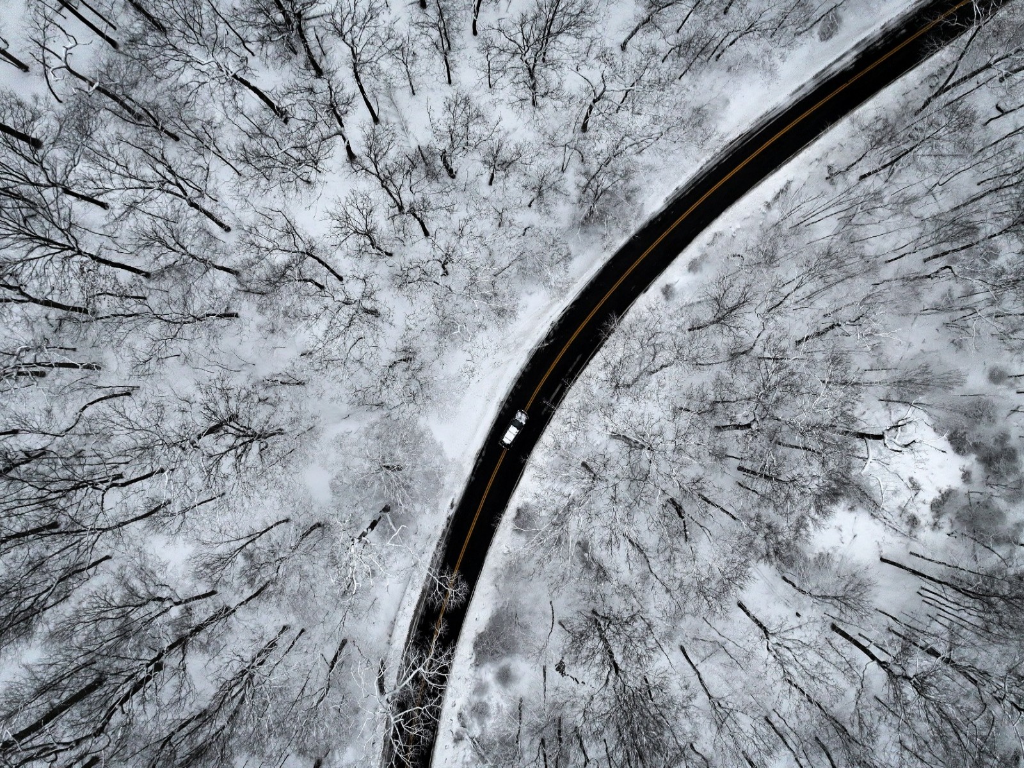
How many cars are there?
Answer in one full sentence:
I count just 1 car.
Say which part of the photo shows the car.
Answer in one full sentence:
Look in the center portion of the view to spot the car.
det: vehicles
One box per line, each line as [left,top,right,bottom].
[498,408,529,449]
